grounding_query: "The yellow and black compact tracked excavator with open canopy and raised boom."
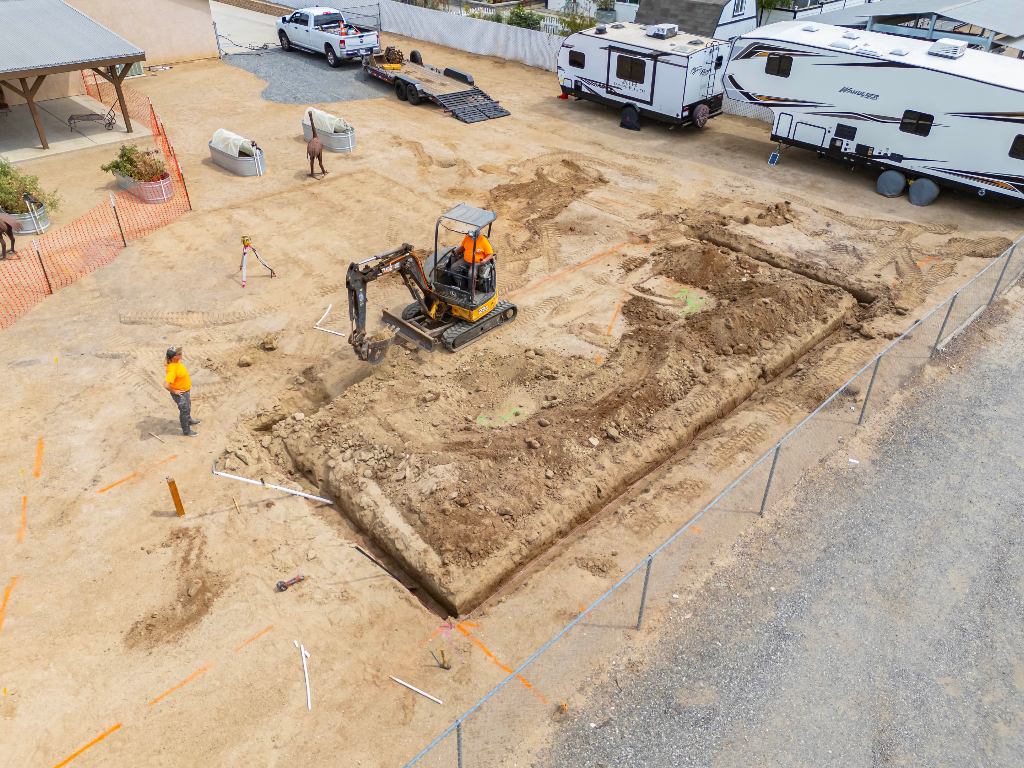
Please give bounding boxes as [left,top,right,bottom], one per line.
[343,199,522,364]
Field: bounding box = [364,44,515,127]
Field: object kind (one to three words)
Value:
trailer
